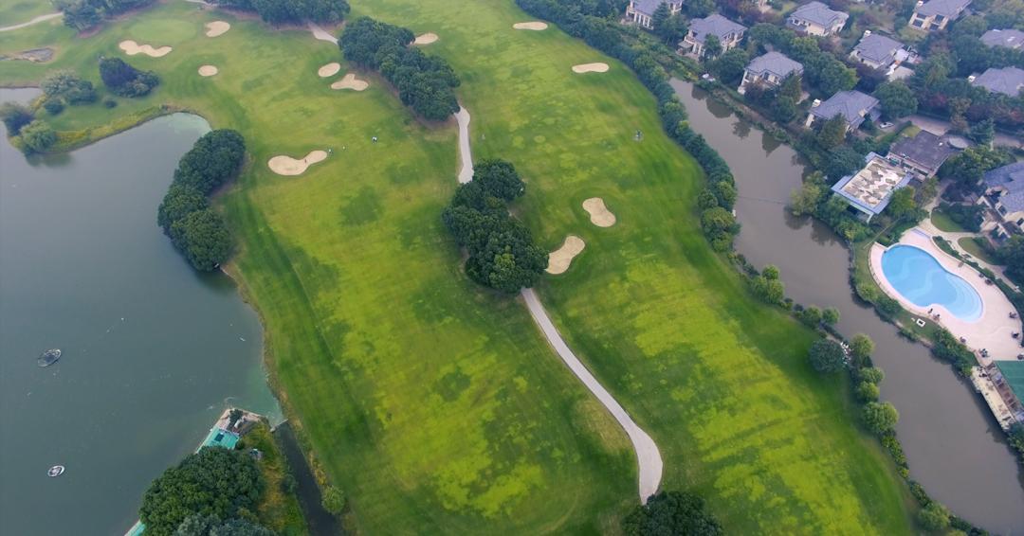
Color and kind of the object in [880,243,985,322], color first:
blue swimming pool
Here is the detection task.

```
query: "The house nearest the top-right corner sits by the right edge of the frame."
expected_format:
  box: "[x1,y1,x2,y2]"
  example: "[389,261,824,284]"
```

[980,28,1024,70]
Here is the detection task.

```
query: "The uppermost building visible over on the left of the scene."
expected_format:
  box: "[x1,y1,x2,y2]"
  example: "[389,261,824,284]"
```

[190,426,242,456]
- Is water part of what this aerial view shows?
Yes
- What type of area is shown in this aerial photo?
golf course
